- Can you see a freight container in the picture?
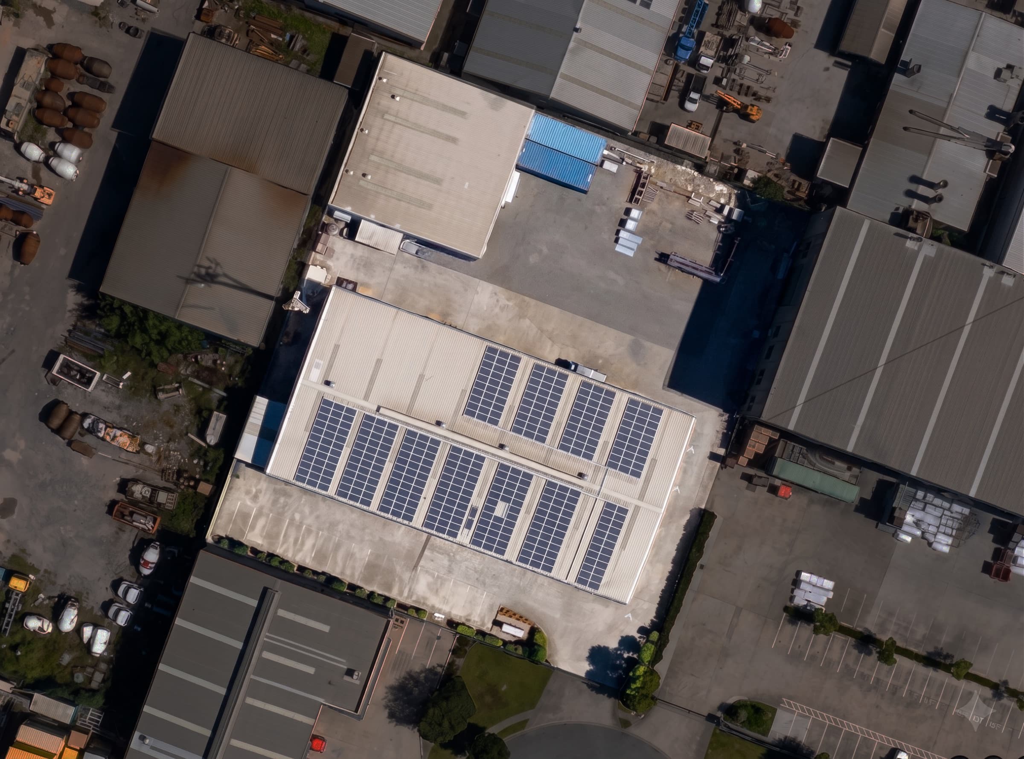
Yes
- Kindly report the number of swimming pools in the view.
none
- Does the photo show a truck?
Yes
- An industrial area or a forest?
industrial area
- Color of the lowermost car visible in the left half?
red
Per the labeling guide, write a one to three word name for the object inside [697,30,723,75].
truck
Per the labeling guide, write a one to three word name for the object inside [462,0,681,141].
warehouse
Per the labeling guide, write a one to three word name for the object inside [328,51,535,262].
building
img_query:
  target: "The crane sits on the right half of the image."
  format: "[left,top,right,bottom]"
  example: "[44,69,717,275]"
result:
[715,89,765,131]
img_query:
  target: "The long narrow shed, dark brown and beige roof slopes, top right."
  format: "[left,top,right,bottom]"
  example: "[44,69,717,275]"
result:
[833,0,908,69]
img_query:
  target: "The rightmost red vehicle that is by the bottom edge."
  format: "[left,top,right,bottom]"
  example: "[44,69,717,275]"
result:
[308,732,334,753]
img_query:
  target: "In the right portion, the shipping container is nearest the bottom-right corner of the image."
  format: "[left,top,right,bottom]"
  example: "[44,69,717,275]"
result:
[766,457,860,504]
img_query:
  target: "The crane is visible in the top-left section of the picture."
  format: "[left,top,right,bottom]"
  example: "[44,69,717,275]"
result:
[0,172,66,212]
